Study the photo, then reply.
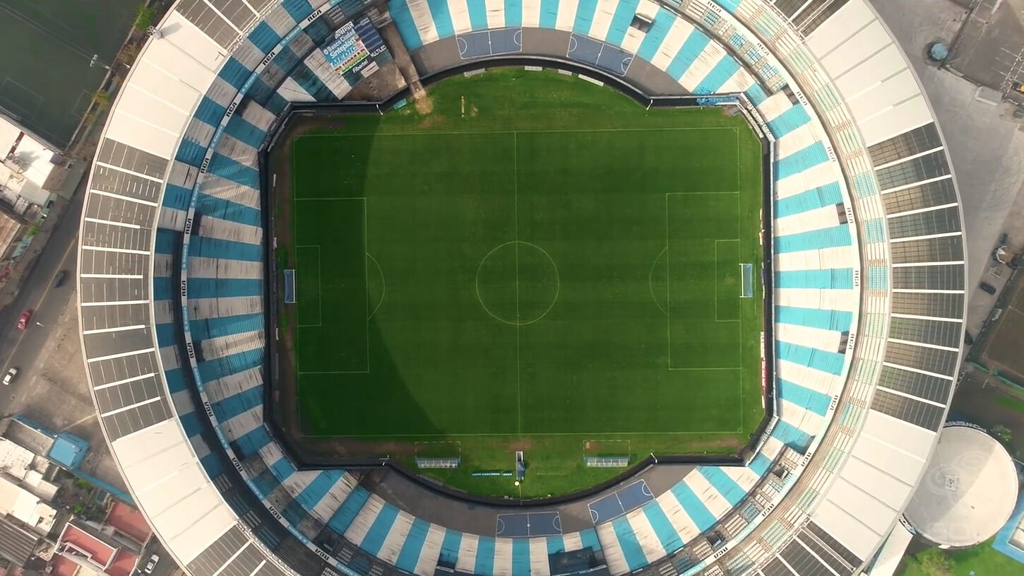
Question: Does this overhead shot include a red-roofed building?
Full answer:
Yes, looking at the shot, I can spot a red-roofed building.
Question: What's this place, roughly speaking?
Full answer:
This image shows a sports ground.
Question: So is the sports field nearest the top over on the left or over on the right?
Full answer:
It is on the left.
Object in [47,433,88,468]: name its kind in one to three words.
building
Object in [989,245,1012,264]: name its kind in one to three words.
gazebo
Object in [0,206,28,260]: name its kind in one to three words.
shed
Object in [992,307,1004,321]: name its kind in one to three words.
vehicle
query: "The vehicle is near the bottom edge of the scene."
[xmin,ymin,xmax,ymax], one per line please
[144,554,158,574]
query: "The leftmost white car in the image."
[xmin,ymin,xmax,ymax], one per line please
[1,366,16,385]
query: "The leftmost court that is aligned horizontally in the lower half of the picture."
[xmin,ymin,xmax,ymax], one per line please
[497,512,561,537]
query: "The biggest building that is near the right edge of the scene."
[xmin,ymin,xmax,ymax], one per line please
[901,415,1018,545]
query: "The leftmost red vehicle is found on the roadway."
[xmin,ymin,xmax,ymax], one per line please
[16,310,32,330]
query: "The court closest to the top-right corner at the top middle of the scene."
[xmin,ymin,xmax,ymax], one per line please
[568,34,633,76]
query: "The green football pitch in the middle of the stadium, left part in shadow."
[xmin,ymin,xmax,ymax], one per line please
[273,67,764,499]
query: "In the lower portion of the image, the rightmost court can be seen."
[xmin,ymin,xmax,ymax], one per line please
[588,479,654,525]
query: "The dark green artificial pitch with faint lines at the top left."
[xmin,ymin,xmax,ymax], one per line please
[0,0,144,146]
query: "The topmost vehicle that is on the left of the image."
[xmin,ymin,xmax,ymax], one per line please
[52,269,67,287]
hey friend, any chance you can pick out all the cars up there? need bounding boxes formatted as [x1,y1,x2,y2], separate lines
[992,307,1004,321]
[999,233,1012,245]
[1,366,16,385]
[52,269,67,287]
[16,310,32,330]
[144,554,158,574]
[980,282,997,294]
